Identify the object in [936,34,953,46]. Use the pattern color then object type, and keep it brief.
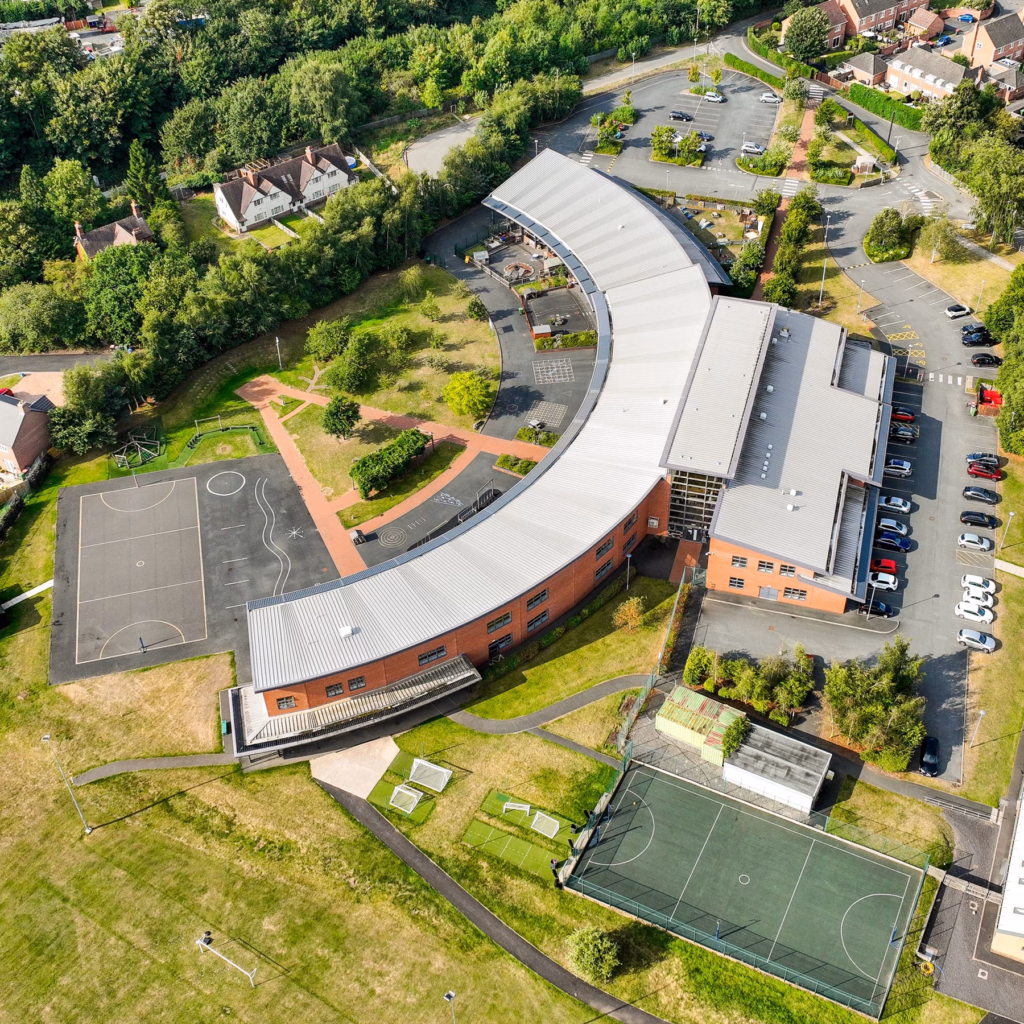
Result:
blue vehicle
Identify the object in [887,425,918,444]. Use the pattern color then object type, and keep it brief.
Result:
black car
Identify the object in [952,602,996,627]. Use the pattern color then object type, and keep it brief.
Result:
white car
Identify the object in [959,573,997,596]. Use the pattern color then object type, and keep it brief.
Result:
white car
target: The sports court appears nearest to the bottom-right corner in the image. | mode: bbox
[573,762,924,1017]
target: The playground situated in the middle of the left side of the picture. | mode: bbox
[50,452,339,684]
